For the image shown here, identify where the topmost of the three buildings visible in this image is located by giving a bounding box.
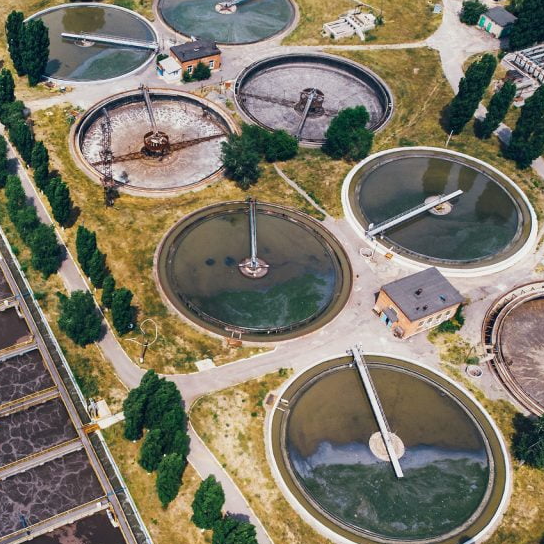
[478,8,512,36]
